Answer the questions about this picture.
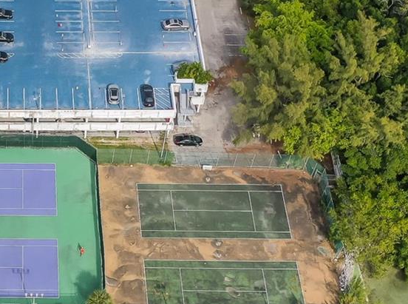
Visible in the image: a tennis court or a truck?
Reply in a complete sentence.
I can see a tennis court in this picture.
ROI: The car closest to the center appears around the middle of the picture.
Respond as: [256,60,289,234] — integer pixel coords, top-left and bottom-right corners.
[175,134,201,147]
